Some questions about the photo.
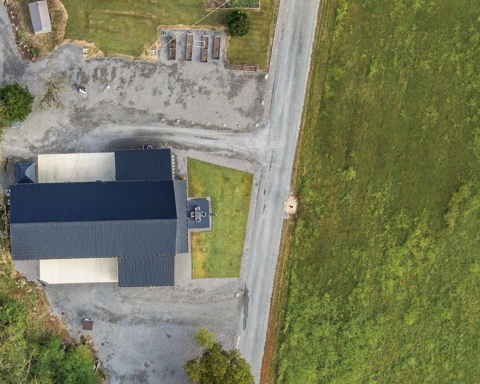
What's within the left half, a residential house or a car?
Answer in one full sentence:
The one visible within the left half is a residential house.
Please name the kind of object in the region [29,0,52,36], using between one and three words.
shed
